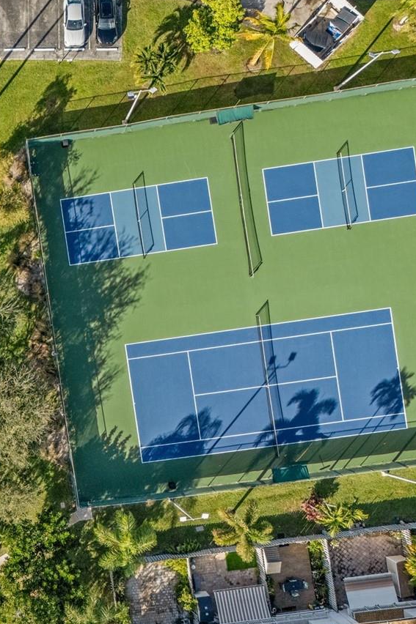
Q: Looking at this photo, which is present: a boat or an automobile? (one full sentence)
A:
Looking from above, you can make out an automobile.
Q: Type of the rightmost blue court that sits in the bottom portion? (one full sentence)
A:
I'd say the rightmost blue court that sits in the bottom portion is a tennis court.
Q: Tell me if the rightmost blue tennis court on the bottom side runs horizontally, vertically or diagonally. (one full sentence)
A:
The rightmost blue tennis court on the bottom side is laid out horizontally.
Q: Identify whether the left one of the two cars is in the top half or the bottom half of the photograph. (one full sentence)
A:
Seen from above, the left one of the two cars lies in the top half of the view.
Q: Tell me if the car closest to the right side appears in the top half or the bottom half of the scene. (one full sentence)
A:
It is in the top half that the car closest to the right side appears.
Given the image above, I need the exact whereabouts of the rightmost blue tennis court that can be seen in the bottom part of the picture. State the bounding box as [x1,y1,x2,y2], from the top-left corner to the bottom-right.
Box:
[126,308,408,463]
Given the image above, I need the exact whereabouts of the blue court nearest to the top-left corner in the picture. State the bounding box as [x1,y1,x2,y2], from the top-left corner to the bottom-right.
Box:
[62,177,219,266]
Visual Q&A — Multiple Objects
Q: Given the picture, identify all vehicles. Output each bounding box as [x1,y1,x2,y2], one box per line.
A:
[95,0,123,46]
[62,0,89,47]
